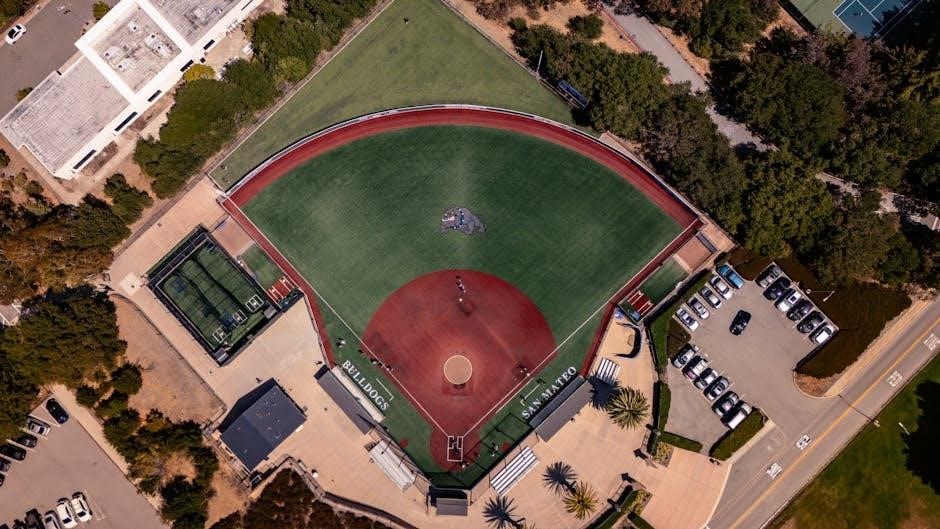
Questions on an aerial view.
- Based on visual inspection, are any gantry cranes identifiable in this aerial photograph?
No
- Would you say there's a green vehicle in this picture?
No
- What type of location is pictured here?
sports ground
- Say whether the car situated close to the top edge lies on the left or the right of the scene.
left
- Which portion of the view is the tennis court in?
top right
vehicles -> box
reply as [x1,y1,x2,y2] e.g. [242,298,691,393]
[47,399,71,423]
[786,298,812,321]
[26,506,48,529]
[713,390,738,416]
[671,343,696,369]
[12,431,39,450]
[718,264,746,291]
[763,277,789,299]
[774,288,801,310]
[808,321,835,344]
[681,353,710,382]
[693,366,717,391]
[795,308,826,333]
[57,500,78,528]
[73,494,92,522]
[5,22,29,46]
[705,377,729,400]
[44,510,63,529]
[686,296,711,320]
[698,286,723,310]
[753,264,783,289]
[0,454,17,474]
[675,308,699,332]
[723,401,752,430]
[0,442,28,462]
[25,417,54,437]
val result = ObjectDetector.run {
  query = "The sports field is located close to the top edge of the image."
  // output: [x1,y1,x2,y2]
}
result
[212,0,612,198]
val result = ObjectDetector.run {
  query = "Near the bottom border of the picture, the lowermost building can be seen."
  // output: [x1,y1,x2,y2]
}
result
[430,491,467,516]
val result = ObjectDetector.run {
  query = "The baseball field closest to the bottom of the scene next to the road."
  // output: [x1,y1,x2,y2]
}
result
[222,107,705,487]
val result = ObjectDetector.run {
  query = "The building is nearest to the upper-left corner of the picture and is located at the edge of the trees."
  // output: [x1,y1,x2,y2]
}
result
[0,0,263,179]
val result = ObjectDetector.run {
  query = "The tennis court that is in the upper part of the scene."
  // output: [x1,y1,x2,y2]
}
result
[778,0,940,129]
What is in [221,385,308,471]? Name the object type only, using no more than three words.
building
